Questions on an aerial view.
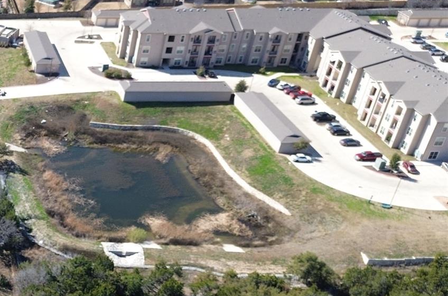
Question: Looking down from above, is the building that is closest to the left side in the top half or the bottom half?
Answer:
top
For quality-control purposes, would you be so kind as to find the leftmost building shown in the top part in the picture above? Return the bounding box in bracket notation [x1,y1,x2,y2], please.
[23,22,69,74]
